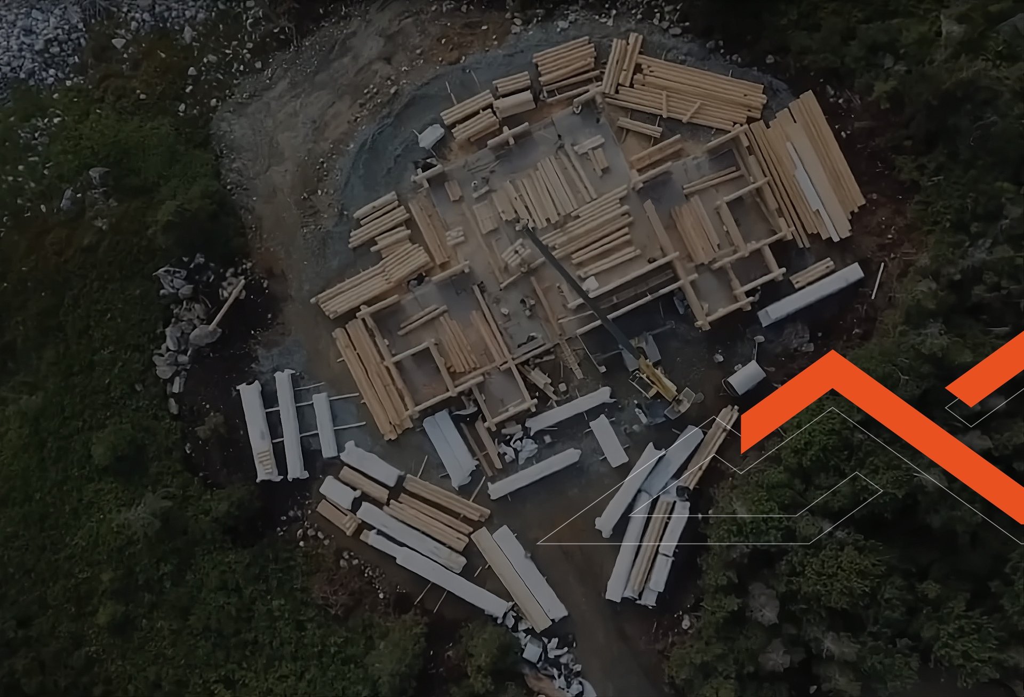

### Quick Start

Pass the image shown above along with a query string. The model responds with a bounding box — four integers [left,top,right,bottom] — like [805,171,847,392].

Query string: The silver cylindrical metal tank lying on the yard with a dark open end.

[723,359,768,399]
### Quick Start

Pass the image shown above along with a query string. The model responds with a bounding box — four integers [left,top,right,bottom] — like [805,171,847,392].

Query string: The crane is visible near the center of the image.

[511,213,696,420]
